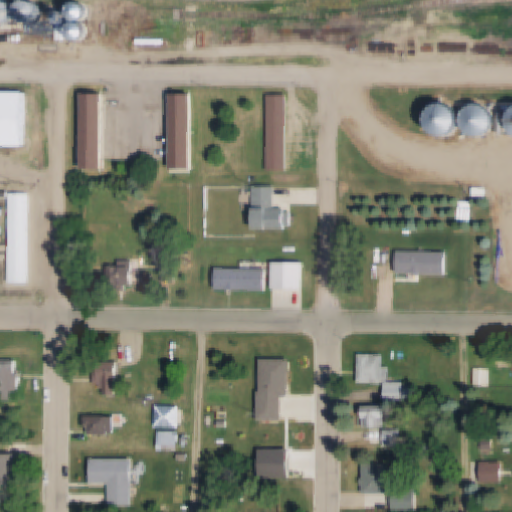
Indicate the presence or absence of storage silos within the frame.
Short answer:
Yes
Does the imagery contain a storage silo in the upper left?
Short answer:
Yes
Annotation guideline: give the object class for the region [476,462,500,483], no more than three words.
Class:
house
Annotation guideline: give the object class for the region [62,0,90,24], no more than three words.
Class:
silo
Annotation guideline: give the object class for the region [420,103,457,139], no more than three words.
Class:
silo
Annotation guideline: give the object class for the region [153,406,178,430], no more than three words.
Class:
building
